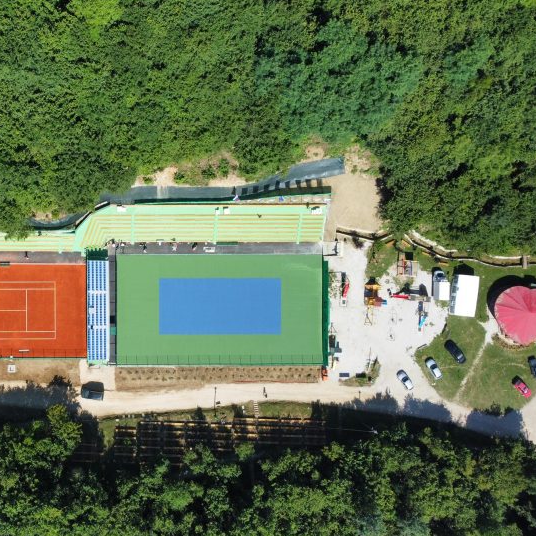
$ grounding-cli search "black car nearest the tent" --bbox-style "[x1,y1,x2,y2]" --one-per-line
[443,338,466,365]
